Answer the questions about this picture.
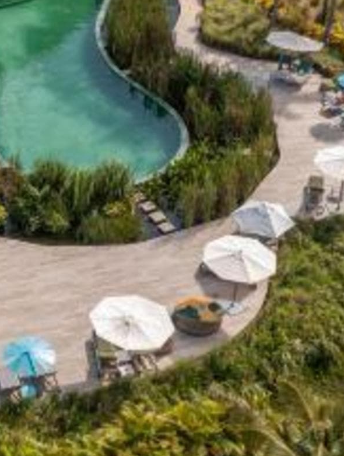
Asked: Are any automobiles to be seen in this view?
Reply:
No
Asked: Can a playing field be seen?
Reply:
No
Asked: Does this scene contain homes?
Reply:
No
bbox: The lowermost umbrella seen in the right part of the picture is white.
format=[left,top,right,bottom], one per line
[202,237,279,314]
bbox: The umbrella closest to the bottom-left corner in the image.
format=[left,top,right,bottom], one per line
[1,342,56,410]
